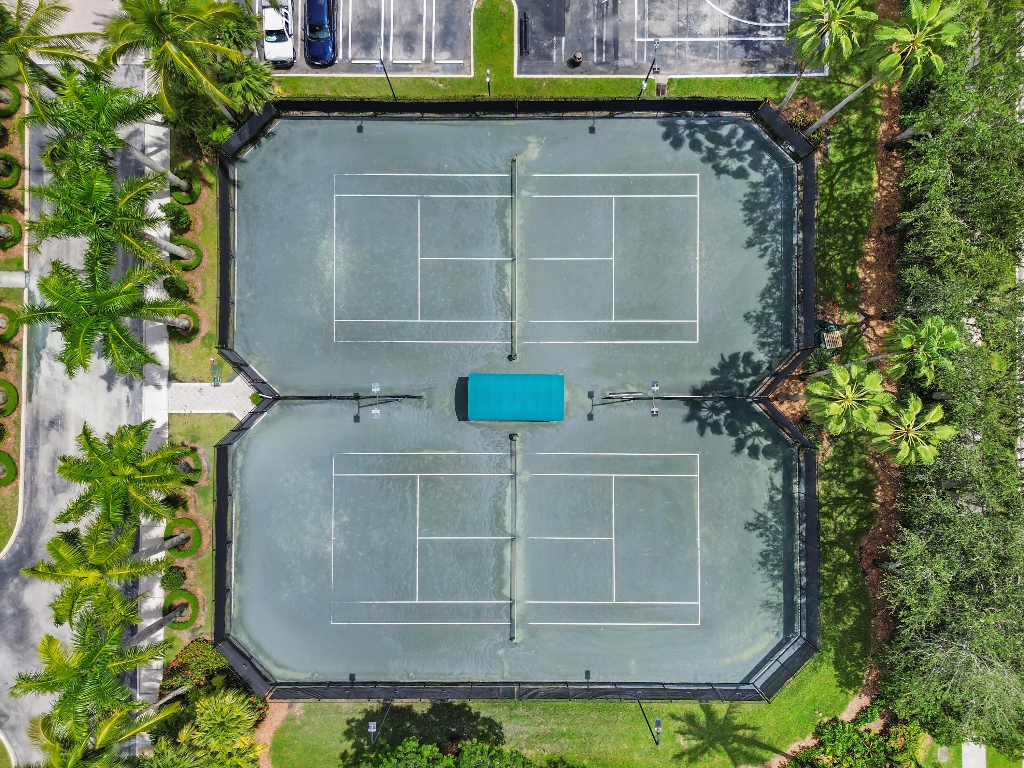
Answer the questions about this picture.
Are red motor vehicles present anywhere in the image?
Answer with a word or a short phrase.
No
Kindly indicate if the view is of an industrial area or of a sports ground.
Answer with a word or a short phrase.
sports ground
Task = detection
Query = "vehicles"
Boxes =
[260,0,300,68]
[301,0,340,66]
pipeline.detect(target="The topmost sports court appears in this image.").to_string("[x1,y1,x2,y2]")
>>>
[602,0,791,41]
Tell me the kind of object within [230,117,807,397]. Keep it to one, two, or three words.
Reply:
tennis court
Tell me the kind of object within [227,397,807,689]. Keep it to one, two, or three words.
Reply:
tennis court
